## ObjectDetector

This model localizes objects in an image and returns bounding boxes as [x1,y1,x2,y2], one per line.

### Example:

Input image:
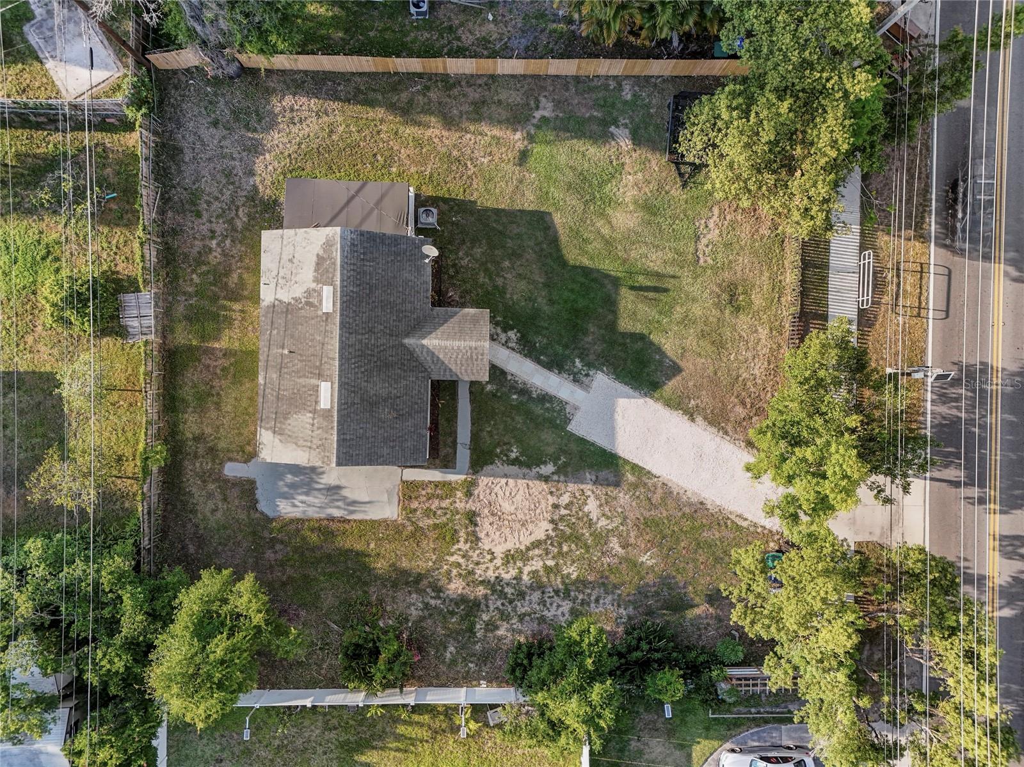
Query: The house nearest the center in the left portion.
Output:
[257,178,494,466]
